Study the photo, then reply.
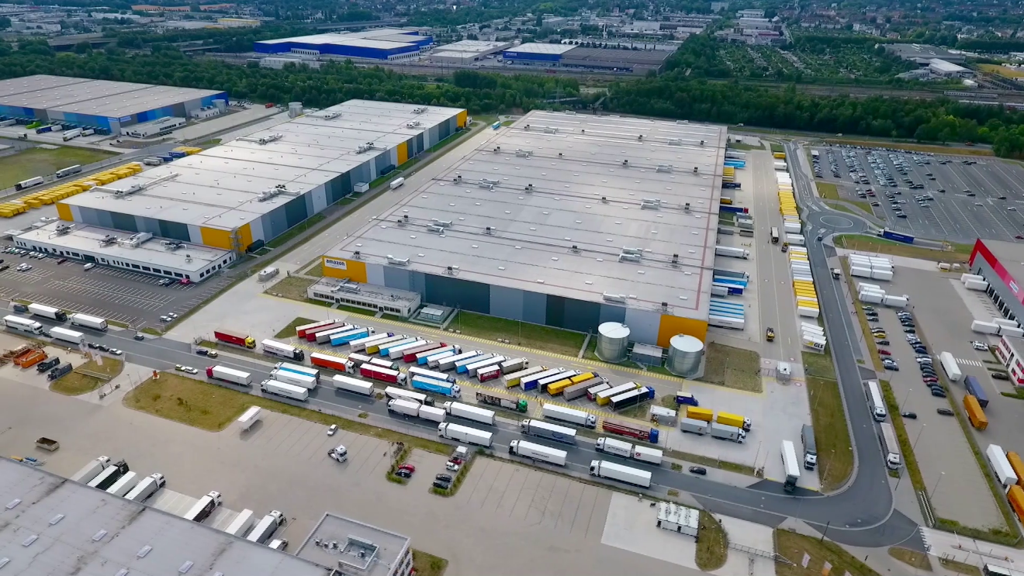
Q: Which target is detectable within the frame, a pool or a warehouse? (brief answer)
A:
warehouse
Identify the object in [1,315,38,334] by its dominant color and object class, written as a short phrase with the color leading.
white vehicle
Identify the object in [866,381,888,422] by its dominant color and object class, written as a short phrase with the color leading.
white truck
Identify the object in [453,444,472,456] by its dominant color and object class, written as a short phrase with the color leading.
white vehicle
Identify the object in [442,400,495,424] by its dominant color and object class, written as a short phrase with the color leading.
white truck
